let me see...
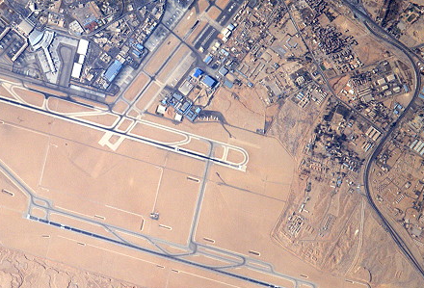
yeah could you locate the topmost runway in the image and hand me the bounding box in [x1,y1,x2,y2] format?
[0,95,247,170]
